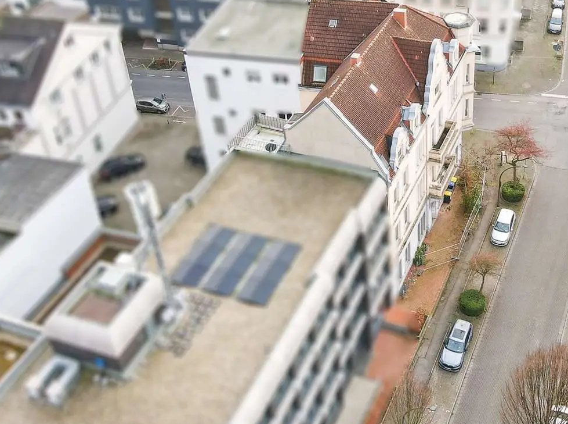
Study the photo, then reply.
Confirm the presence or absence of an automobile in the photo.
Yes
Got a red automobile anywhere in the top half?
No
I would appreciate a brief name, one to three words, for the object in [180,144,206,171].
car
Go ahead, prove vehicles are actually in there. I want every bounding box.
[96,155,146,179]
[91,193,129,215]
[551,0,565,8]
[169,56,190,72]
[490,210,517,246]
[180,144,206,171]
[136,95,173,116]
[437,319,474,374]
[547,10,565,32]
